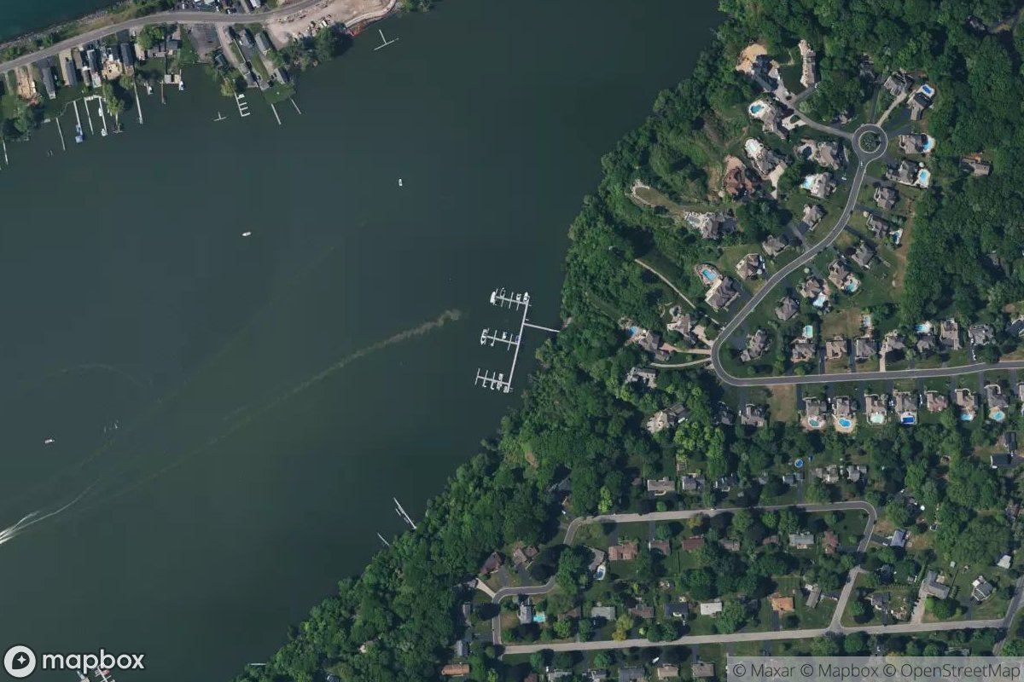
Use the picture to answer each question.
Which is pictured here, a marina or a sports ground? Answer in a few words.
marina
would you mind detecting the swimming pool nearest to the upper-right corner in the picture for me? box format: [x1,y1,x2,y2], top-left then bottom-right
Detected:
[919,81,937,98]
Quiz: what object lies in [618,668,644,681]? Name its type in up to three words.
house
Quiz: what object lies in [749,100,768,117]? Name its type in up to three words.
swimming pool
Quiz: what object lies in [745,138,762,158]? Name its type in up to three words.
swimming pool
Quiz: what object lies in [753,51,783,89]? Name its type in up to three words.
house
